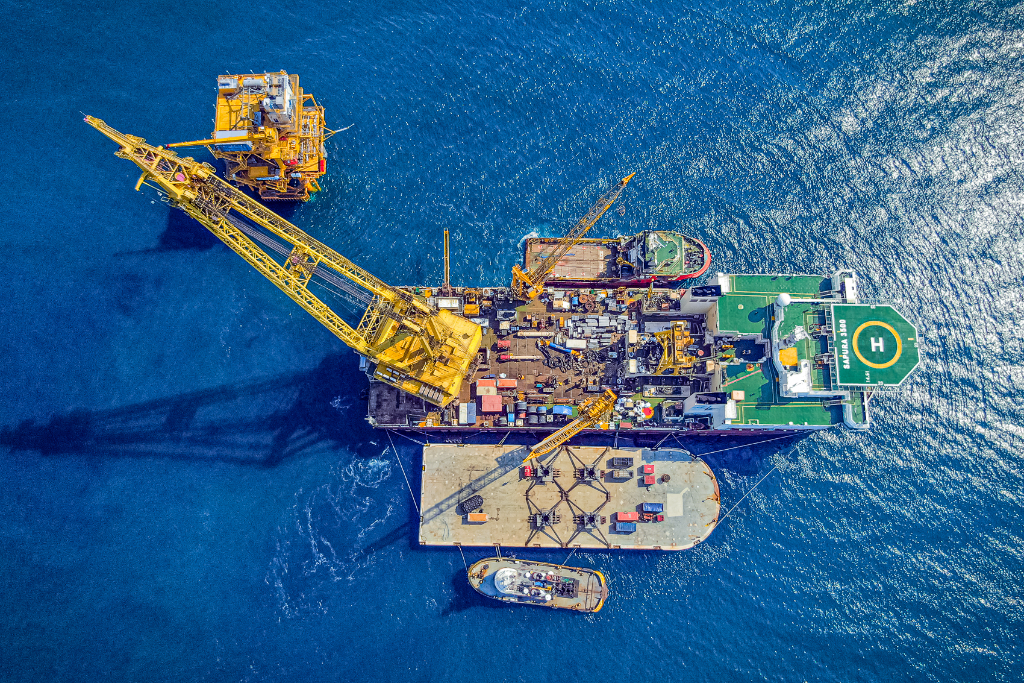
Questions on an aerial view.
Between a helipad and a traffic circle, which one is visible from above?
helipad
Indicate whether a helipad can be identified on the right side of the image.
Yes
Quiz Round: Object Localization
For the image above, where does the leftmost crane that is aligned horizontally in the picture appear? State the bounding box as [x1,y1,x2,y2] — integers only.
[165,126,288,165]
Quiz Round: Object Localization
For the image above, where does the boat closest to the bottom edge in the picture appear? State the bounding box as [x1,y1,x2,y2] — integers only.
[467,552,608,615]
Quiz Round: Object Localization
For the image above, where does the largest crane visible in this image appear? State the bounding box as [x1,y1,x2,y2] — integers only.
[80,109,483,407]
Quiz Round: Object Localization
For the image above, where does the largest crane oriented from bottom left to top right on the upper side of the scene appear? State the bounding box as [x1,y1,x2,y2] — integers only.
[515,172,637,305]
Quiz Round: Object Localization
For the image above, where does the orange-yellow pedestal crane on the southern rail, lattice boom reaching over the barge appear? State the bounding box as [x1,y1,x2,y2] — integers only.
[521,385,617,465]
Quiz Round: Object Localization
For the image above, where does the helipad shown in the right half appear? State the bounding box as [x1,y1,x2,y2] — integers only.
[826,299,928,398]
